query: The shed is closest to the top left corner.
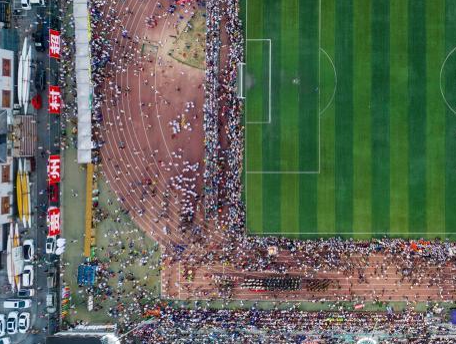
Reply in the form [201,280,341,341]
[0,28,25,49]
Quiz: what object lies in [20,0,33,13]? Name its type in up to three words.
vehicle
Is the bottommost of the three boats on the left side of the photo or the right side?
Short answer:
left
